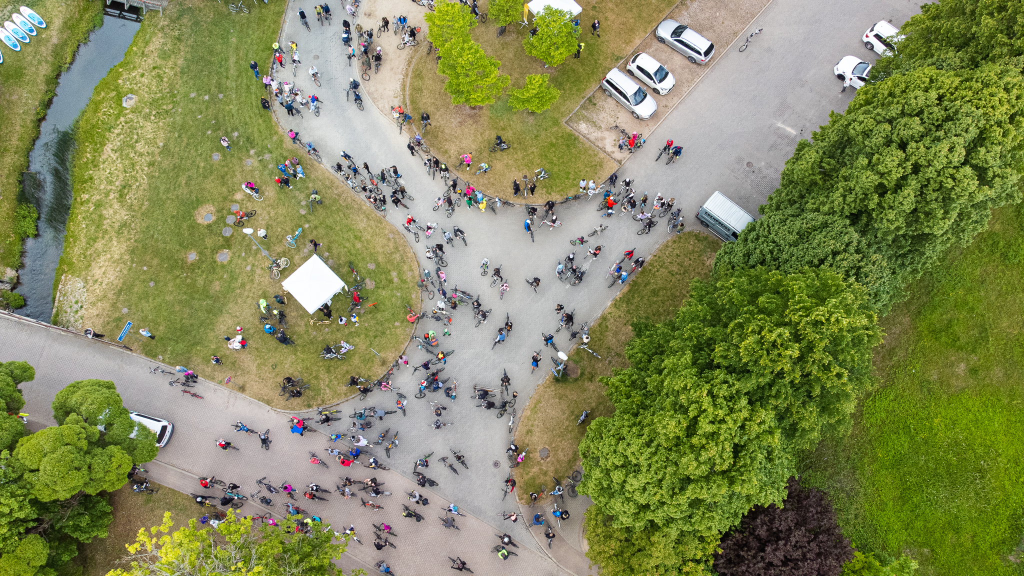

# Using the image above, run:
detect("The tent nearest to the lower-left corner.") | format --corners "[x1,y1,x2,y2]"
[280,254,354,326]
